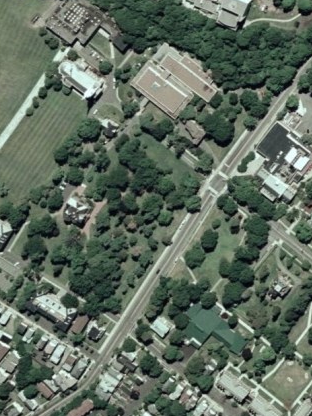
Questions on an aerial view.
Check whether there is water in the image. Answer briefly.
No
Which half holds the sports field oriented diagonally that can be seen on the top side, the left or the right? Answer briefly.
left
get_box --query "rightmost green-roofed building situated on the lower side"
[183,304,248,355]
